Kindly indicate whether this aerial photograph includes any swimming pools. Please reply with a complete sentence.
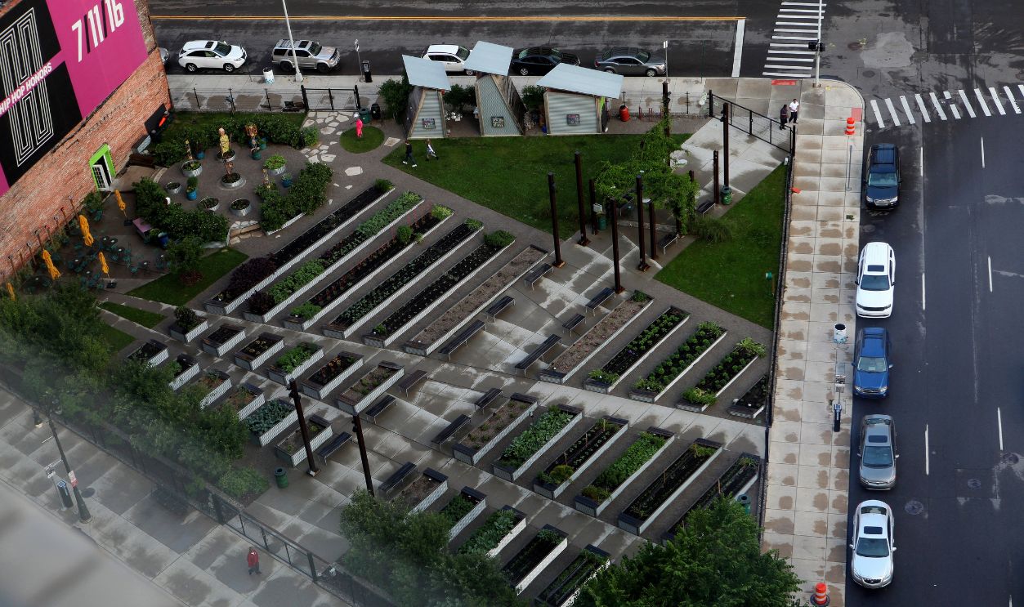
No, I can't see a single swimming pool in this photo.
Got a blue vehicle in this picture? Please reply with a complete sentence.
Yes, there is a blue vehicle in the image.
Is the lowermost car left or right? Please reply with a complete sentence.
The lowermost car appears in the right half of the scene.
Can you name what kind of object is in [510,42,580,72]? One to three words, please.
car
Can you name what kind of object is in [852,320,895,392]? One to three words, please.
car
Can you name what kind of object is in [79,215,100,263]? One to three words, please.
umbrella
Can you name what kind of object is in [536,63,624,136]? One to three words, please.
shed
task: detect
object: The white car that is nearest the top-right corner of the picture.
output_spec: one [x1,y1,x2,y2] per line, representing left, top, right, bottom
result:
[854,246,897,315]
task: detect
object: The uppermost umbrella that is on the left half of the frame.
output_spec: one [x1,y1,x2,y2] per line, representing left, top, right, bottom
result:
[117,190,130,225]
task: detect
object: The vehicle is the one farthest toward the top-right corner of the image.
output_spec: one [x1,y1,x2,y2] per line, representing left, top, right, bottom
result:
[864,144,903,206]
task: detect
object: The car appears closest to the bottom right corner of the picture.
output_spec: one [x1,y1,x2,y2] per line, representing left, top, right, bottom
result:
[849,497,898,584]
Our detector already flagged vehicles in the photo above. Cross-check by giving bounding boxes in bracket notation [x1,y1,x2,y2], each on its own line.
[854,246,897,315]
[849,497,898,584]
[595,42,668,73]
[857,414,902,487]
[158,47,170,65]
[864,144,903,206]
[176,37,247,71]
[510,42,580,72]
[418,37,475,73]
[852,320,895,392]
